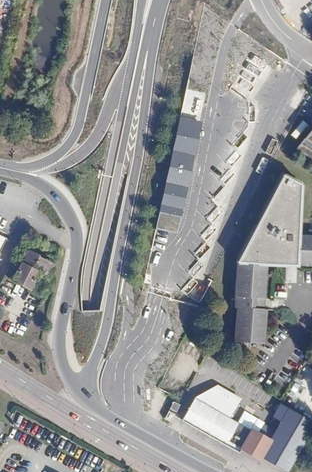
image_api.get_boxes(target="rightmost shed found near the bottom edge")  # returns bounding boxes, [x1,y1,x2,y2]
[265,404,308,472]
